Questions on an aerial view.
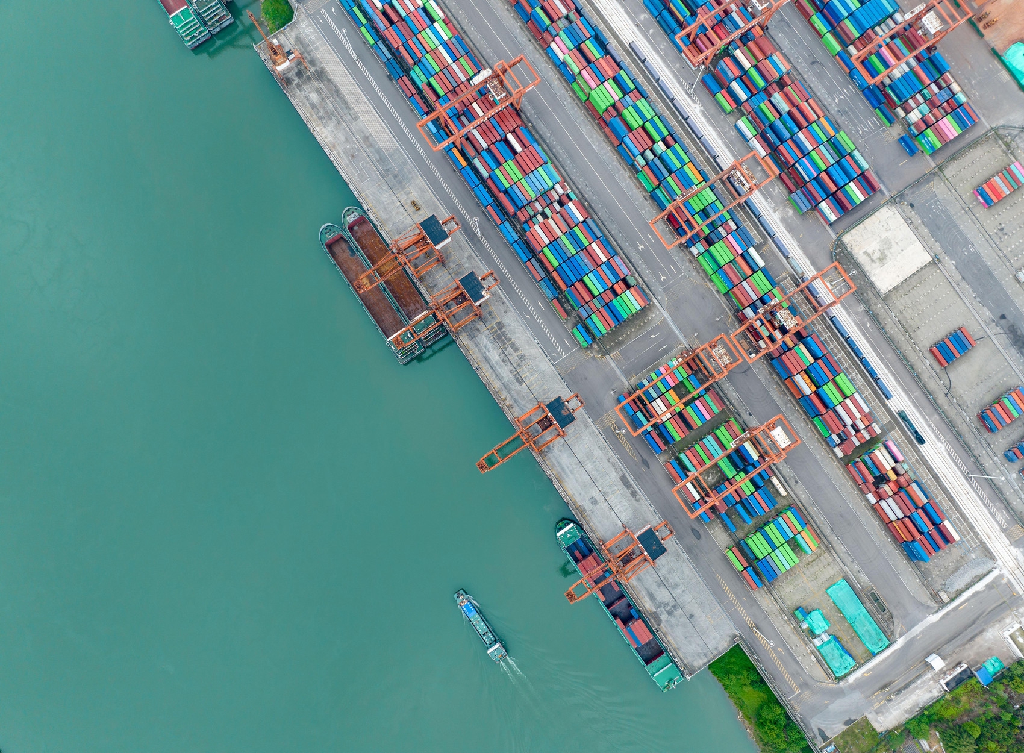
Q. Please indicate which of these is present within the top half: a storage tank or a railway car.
railway car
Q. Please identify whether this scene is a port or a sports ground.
port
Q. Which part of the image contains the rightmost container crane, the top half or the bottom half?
top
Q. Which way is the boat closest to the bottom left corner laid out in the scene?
on a diagonal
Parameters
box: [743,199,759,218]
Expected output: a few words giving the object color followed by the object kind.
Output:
blue rail car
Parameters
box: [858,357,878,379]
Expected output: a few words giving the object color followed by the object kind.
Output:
blue rail car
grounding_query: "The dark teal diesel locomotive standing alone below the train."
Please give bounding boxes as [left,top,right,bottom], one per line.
[895,408,926,445]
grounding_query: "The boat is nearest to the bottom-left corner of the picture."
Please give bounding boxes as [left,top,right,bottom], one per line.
[453,587,509,663]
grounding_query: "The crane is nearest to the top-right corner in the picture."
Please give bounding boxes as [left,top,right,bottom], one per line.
[850,0,978,88]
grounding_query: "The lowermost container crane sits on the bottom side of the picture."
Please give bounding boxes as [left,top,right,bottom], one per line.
[565,521,674,603]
